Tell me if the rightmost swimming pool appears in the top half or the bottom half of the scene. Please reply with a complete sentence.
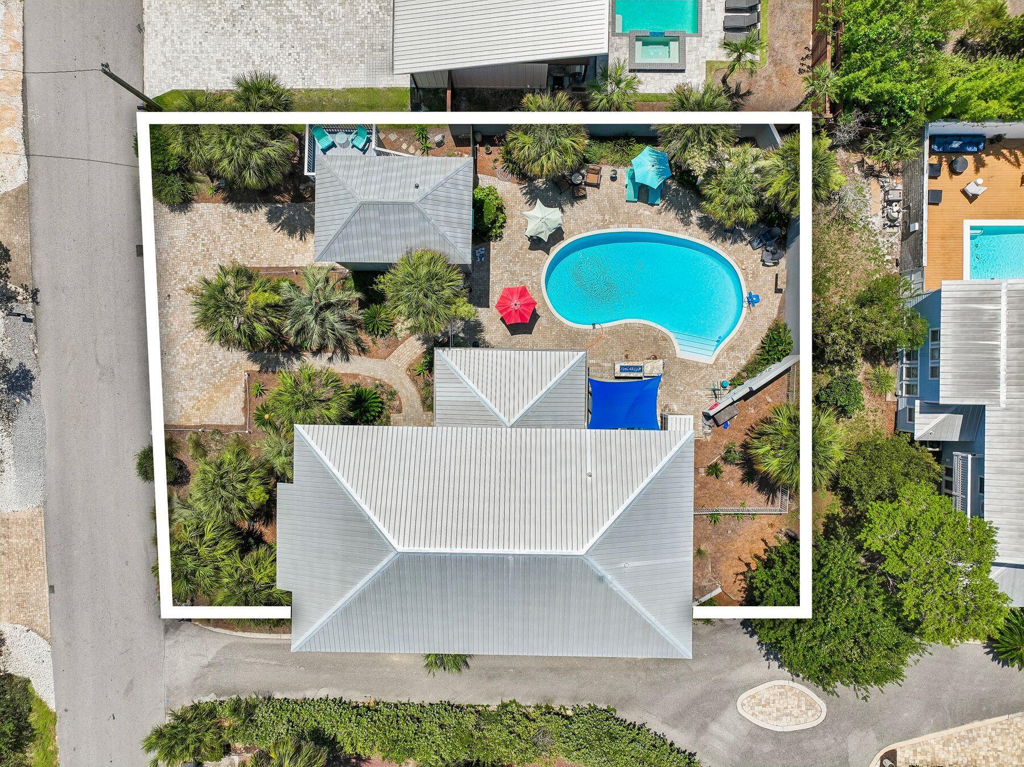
It is in the top half that the rightmost swimming pool appears.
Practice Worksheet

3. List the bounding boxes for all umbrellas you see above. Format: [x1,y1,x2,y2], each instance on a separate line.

[631,148,671,189]
[495,286,537,324]
[523,200,561,241]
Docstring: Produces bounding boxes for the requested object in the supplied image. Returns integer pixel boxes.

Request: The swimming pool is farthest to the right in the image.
[964,219,1024,279]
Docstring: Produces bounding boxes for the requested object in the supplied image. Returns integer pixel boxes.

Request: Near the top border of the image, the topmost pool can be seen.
[612,0,702,36]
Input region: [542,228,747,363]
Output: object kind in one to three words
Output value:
swimming pool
